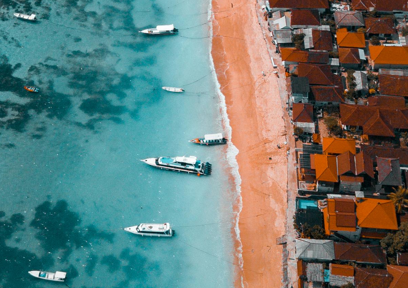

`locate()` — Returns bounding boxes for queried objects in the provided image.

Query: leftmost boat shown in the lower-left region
[27,269,68,281]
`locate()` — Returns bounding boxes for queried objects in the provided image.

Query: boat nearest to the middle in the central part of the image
[187,133,230,145]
